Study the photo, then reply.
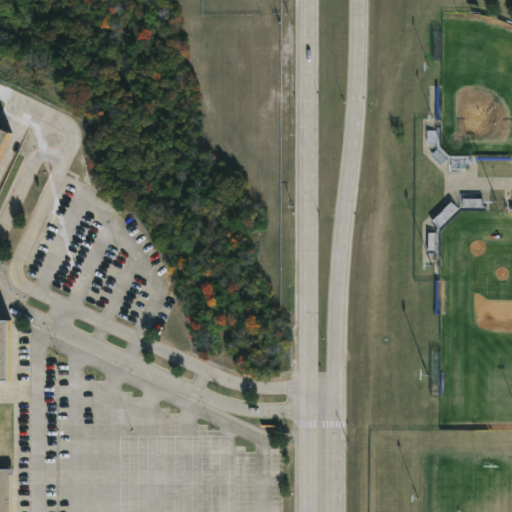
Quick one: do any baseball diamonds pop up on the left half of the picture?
No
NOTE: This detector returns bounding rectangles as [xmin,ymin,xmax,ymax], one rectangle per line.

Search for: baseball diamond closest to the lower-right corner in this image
[441,210,512,430]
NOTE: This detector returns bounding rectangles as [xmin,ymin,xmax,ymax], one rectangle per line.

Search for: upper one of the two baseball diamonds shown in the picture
[442,13,512,157]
